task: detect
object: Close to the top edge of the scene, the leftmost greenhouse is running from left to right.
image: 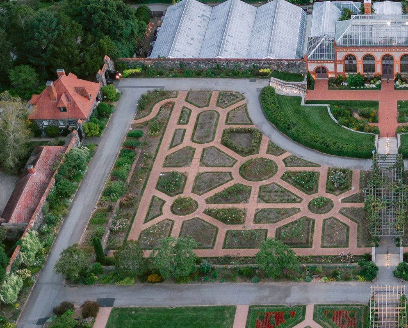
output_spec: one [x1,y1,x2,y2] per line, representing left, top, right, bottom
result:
[149,0,309,60]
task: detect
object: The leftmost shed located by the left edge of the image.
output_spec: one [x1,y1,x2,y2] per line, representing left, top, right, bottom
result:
[0,146,64,238]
